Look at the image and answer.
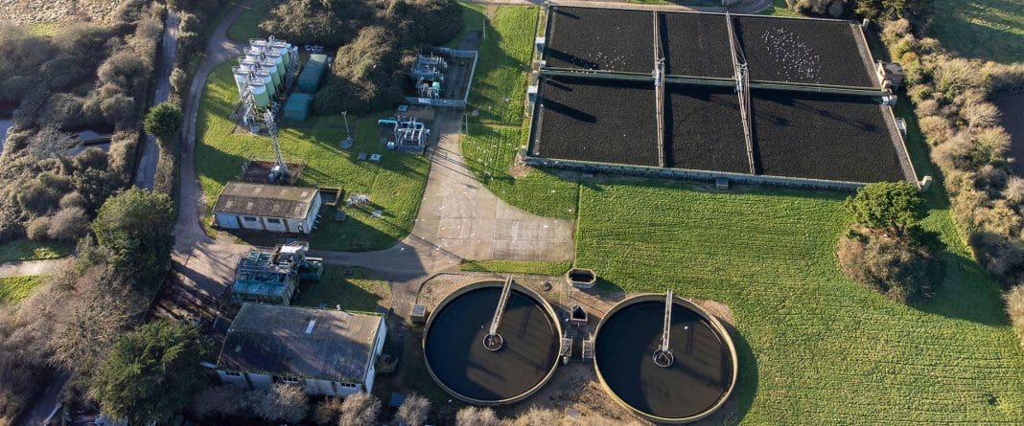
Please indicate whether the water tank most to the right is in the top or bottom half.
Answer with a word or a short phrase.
bottom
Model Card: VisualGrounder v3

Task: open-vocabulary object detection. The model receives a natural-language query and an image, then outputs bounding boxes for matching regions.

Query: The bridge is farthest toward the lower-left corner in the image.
[489,275,514,338]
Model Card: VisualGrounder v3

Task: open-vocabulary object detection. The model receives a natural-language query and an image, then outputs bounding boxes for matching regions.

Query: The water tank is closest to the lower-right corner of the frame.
[593,287,739,426]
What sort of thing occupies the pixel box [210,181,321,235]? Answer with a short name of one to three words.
building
